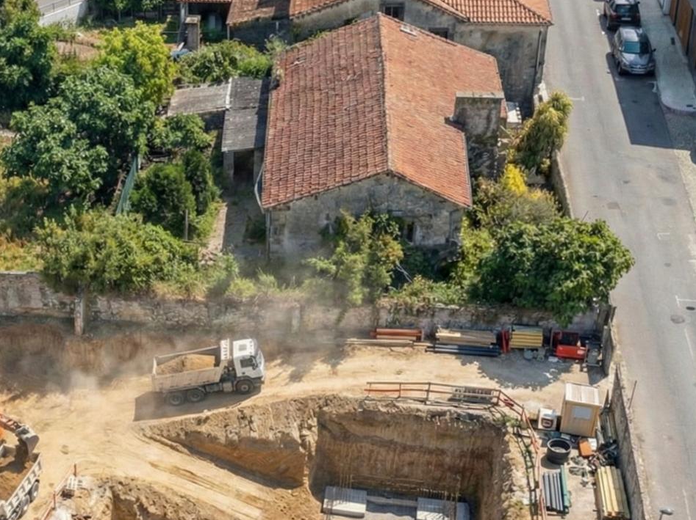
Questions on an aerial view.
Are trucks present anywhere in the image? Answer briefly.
Yes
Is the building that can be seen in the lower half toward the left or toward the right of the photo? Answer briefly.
right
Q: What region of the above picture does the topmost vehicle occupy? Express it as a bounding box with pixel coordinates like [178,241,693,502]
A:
[602,0,642,25]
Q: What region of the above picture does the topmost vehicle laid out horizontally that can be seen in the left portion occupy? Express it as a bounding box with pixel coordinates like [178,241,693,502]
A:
[145,340,268,411]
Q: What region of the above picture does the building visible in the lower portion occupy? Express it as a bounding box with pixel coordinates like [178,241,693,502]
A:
[560,378,604,436]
